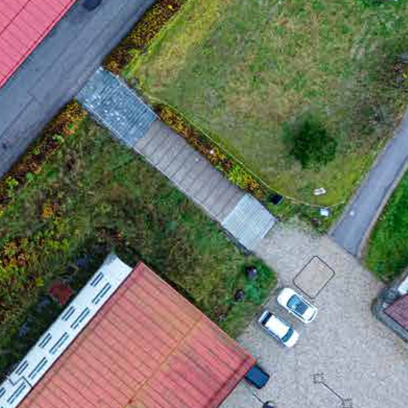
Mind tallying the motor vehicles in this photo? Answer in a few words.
3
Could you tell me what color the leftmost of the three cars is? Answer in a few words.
blue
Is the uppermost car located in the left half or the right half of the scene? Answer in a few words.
right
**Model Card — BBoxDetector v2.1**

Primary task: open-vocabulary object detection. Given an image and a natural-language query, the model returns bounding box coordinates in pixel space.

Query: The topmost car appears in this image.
[280,290,321,326]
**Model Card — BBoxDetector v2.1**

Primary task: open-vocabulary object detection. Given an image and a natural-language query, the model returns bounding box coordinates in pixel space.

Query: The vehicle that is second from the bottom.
[261,313,302,348]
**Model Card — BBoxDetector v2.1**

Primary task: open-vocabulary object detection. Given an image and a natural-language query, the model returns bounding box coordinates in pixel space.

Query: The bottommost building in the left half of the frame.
[0,250,255,408]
